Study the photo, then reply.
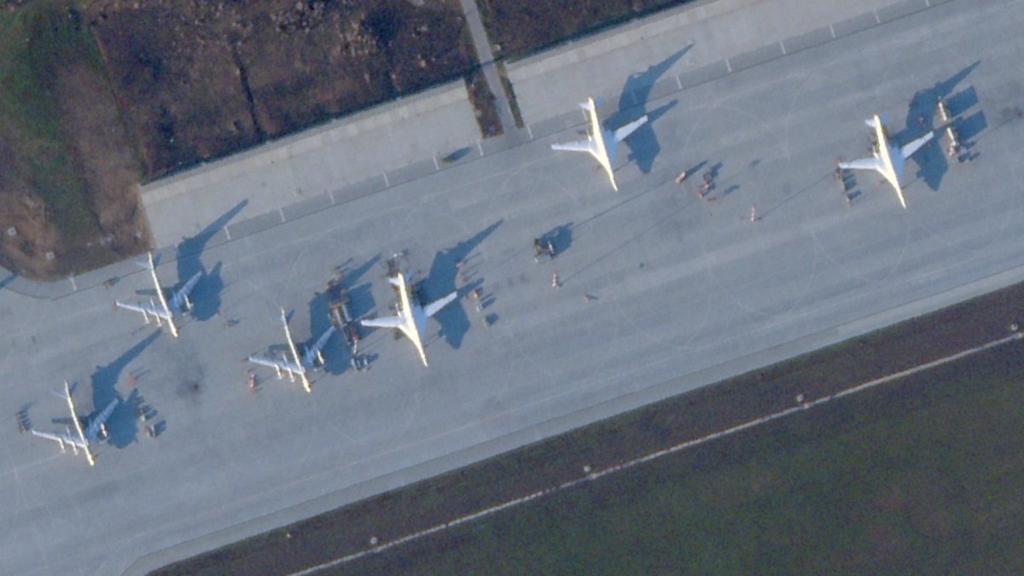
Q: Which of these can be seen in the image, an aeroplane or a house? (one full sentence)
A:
There is an aeroplane in the scene.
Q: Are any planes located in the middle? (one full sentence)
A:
Yes, a plane can be seen in the middle.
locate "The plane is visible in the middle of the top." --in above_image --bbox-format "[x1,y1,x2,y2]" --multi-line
[552,101,647,190]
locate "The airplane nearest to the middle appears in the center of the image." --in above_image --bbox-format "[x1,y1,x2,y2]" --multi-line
[361,275,458,366]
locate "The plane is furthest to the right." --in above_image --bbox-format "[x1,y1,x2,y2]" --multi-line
[838,117,933,206]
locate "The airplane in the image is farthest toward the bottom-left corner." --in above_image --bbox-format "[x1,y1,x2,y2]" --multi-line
[34,383,120,464]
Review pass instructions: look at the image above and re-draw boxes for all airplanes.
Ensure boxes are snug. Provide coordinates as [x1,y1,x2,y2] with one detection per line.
[361,275,458,366]
[250,311,336,390]
[838,117,933,206]
[552,101,647,190]
[34,383,120,464]
[118,255,204,337]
